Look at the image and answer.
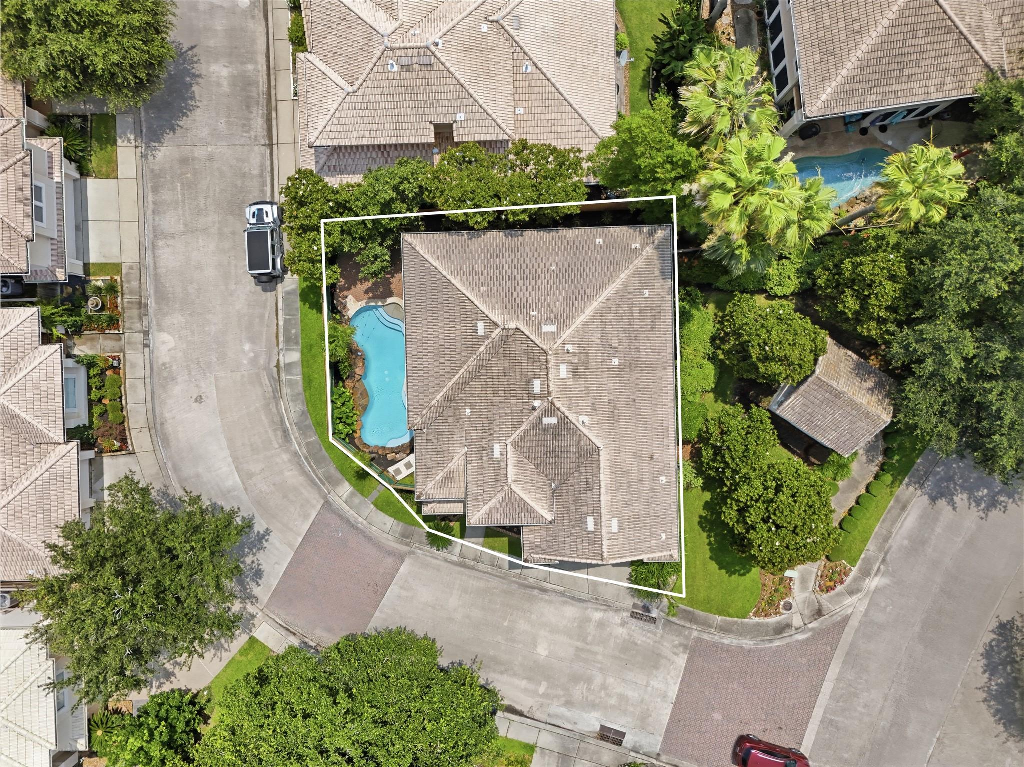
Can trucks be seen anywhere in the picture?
No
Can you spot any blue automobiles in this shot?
No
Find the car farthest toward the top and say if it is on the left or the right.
left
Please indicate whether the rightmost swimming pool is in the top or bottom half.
top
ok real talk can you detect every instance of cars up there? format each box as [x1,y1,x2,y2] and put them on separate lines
[243,199,285,282]
[731,738,815,767]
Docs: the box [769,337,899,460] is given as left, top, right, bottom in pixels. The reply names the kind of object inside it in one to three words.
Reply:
building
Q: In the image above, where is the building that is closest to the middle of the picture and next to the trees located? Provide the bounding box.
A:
[400,223,681,566]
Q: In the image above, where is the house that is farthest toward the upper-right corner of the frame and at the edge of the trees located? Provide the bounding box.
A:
[766,0,1024,137]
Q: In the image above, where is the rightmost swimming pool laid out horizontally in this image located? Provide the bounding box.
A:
[753,147,916,205]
